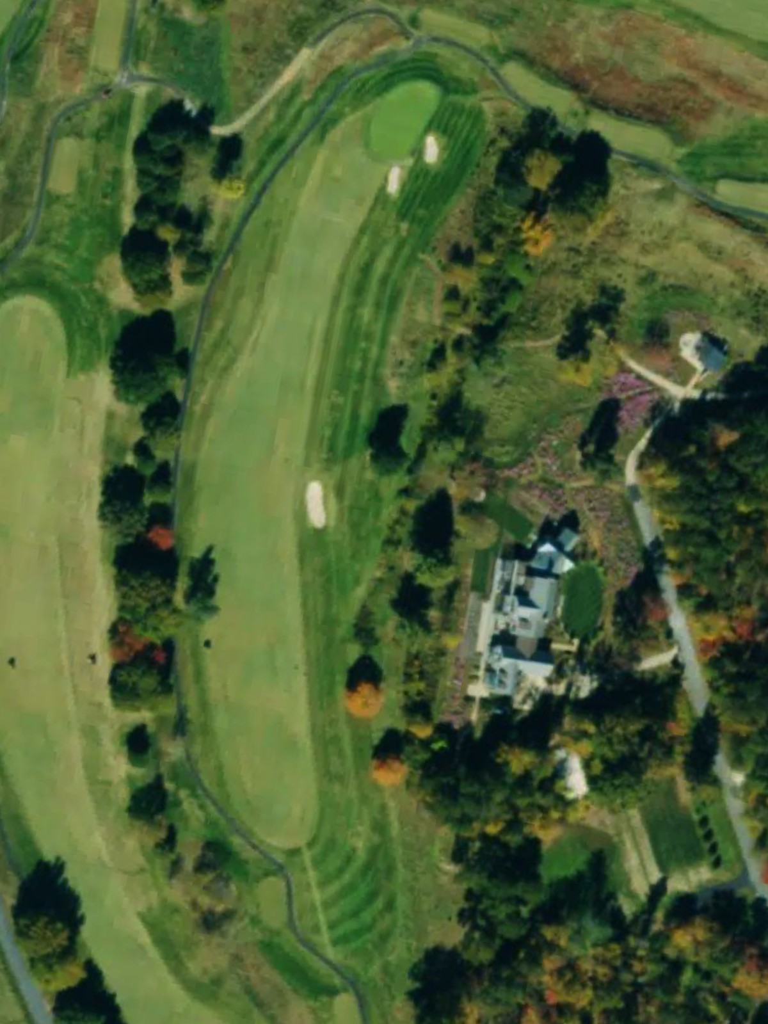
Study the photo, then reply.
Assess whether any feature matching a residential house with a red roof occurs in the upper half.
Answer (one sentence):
No, there's no residential house with a red roof to be seen in the upper half.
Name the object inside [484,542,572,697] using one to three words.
house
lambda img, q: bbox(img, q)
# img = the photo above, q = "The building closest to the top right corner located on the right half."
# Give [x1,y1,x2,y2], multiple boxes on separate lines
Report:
[698,332,728,376]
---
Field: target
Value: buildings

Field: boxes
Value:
[698,332,728,376]
[484,542,572,697]
[557,528,580,553]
